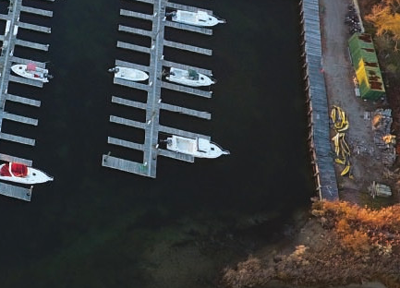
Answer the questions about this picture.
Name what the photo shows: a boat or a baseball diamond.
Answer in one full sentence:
Looking from above, you can make out a boat.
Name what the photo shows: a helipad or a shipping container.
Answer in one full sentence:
I can see a shipping container in this picture.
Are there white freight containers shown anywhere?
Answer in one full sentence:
No, there appears to be no white freight container in this shot.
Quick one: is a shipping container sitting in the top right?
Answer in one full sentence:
Yes, a shipping container is visible in the top right.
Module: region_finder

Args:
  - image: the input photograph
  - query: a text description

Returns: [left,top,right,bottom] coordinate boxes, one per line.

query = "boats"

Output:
[0,162,58,184]
[166,67,220,85]
[8,61,54,82]
[163,135,235,158]
[113,66,149,80]
[168,7,227,27]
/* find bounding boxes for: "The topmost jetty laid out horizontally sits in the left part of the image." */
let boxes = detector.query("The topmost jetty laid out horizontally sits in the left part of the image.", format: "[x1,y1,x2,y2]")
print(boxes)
[101,155,156,179]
